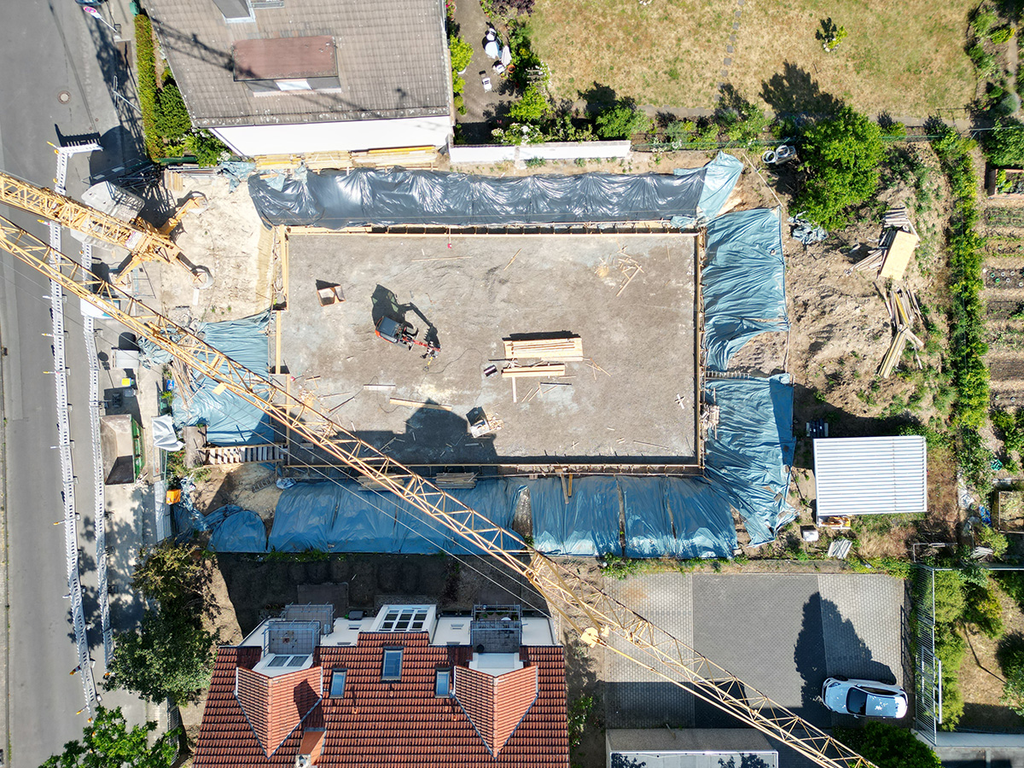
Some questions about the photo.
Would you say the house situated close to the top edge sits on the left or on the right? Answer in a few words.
left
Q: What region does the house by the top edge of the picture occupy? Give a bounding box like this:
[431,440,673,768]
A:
[131,0,458,157]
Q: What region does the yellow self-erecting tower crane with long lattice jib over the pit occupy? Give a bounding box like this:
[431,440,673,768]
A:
[0,176,879,768]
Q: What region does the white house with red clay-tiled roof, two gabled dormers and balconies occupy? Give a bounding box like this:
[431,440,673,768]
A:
[196,593,568,768]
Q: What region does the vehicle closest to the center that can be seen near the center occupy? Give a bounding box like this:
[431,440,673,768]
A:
[371,313,442,361]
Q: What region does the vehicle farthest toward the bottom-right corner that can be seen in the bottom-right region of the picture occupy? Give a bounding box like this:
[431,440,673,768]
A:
[817,670,908,720]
